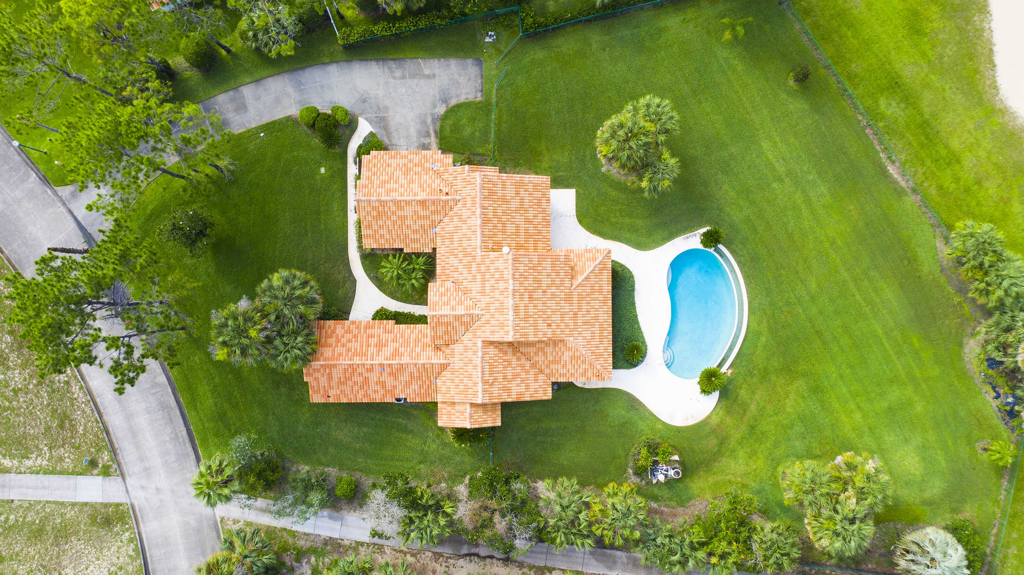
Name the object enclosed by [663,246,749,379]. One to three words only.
swimming pool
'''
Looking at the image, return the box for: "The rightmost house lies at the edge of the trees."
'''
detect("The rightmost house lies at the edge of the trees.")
[304,150,613,429]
